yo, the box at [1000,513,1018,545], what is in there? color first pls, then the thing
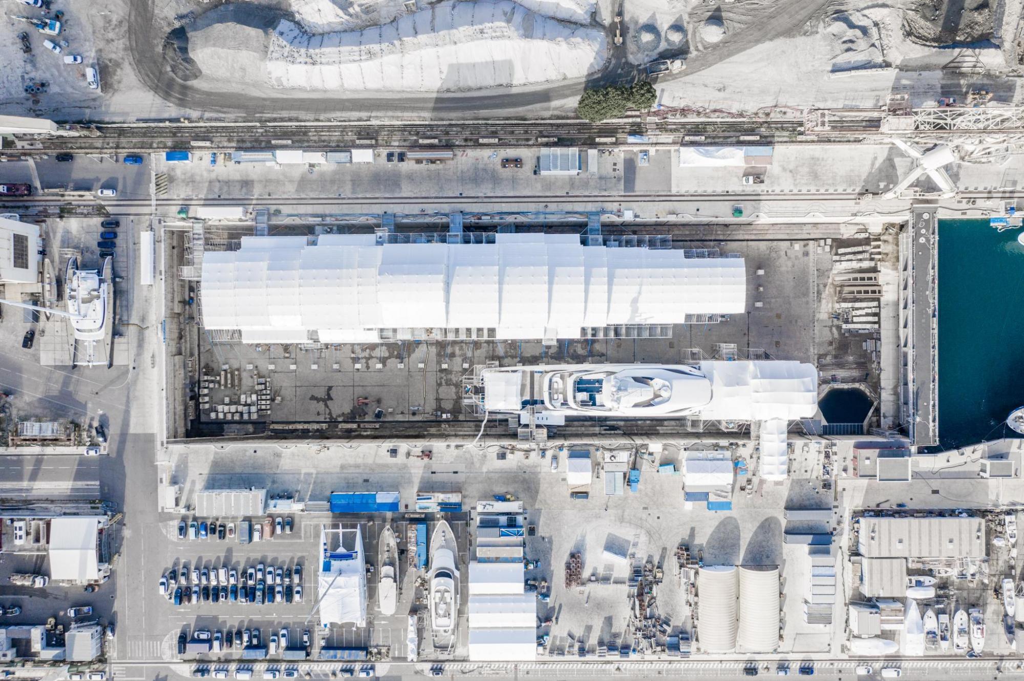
white boat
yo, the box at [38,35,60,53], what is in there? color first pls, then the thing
white vehicle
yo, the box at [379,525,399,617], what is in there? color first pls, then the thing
white boat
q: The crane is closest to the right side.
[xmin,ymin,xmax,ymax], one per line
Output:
[868,124,1024,201]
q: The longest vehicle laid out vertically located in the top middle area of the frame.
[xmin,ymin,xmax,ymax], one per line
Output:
[612,6,624,48]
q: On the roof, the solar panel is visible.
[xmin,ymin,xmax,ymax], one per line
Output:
[13,233,29,268]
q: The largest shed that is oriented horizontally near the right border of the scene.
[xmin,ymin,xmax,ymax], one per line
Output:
[854,513,986,558]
